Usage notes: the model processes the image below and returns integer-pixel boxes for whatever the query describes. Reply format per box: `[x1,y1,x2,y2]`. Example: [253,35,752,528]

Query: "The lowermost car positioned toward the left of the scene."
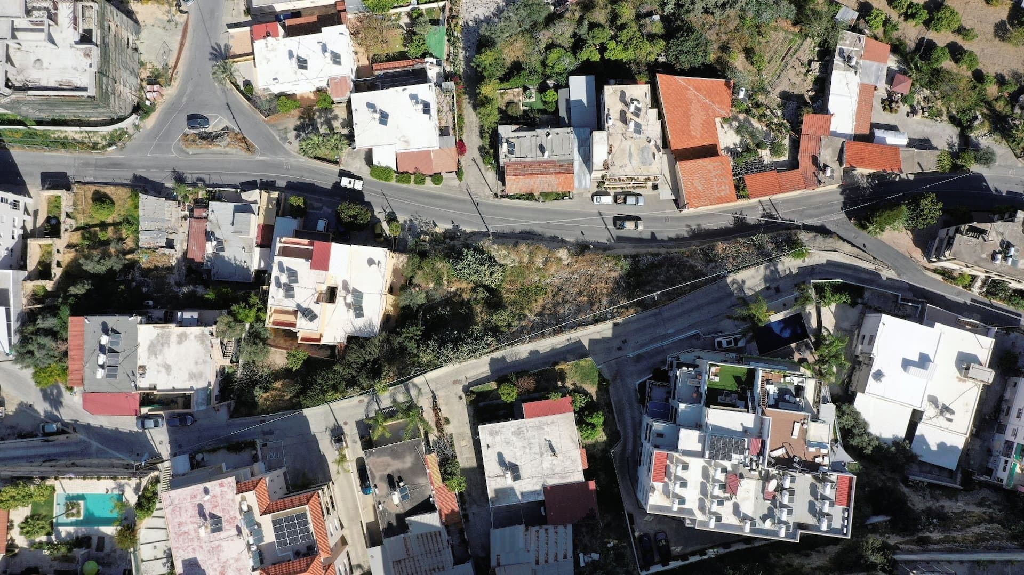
[358,465,372,494]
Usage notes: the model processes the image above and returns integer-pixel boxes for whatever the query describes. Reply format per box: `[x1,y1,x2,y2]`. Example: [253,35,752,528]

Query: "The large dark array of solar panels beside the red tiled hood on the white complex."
[708,433,746,464]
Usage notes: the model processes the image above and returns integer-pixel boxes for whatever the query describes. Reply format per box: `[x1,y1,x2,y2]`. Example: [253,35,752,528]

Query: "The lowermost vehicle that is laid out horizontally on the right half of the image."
[715,336,745,349]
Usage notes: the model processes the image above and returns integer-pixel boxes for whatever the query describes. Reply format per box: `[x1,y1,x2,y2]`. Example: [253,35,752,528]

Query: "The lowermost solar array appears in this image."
[272,512,314,549]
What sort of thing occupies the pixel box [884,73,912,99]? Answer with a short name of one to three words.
gazebo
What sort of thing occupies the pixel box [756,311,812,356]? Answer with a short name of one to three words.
swimming pool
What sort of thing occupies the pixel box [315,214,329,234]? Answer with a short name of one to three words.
vehicle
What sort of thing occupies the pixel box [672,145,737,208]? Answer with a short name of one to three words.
house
